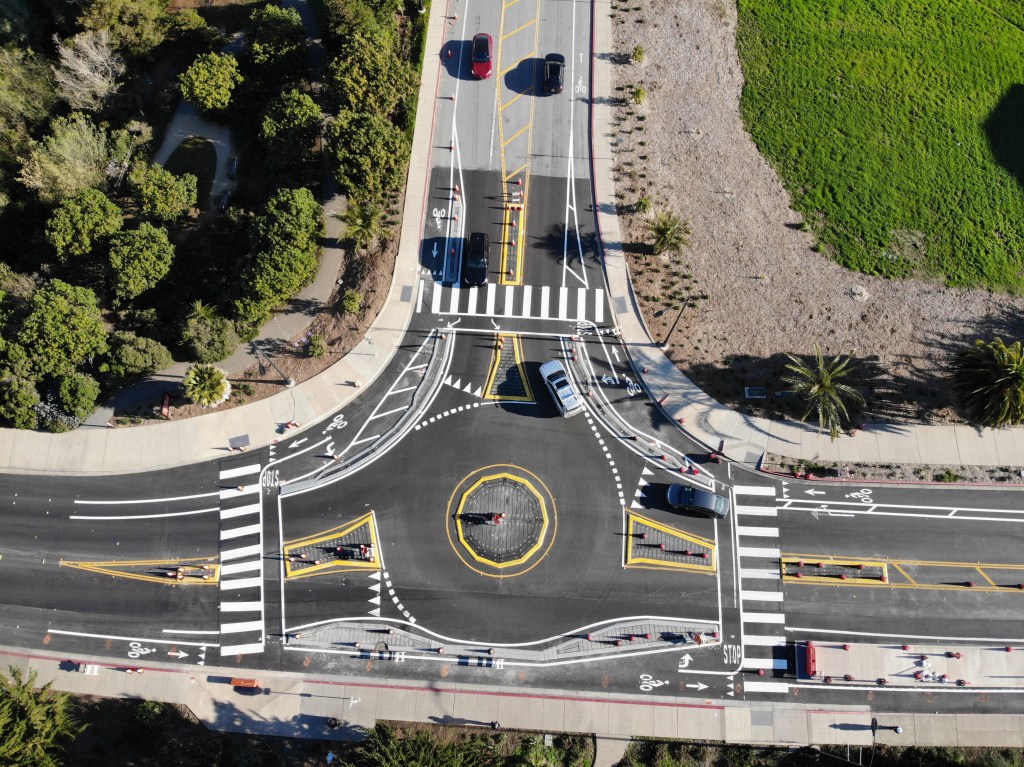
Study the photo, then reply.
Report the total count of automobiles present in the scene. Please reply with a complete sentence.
My tally gives 5 automobiles in this view.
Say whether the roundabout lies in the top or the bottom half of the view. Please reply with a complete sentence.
It is in the bottom half that the roundabout appears.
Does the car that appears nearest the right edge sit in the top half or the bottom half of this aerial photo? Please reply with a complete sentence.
Seen from above, the car that appears nearest the right edge lies in the bottom half of the view.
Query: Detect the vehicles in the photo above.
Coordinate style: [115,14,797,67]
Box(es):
[664,483,731,520]
[539,360,584,420]
[464,233,492,287]
[542,55,566,97]
[469,35,493,80]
